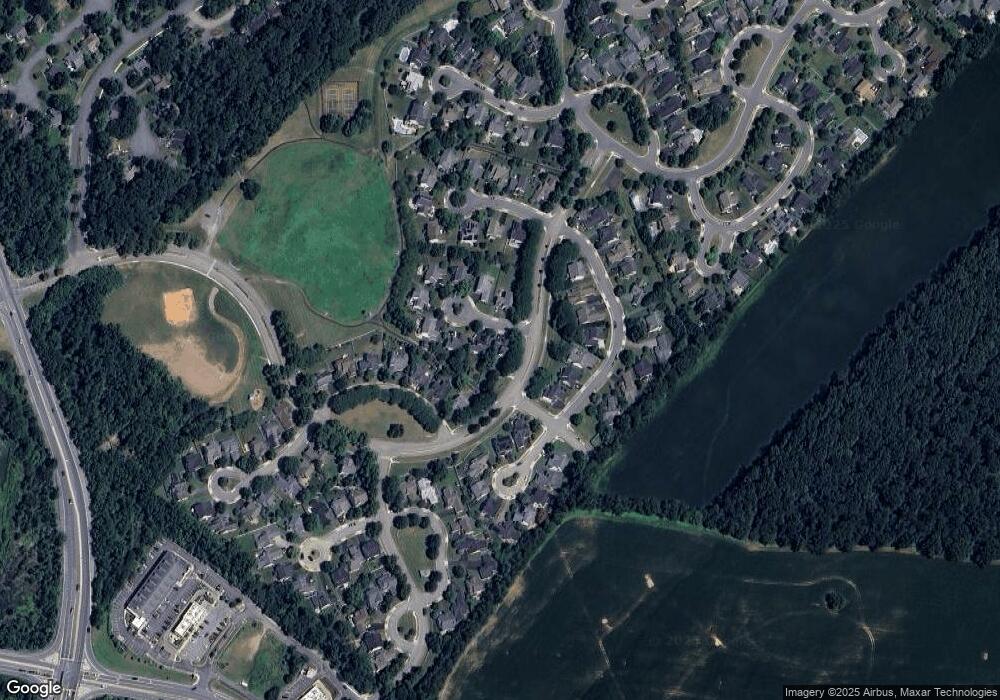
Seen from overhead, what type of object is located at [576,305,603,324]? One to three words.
house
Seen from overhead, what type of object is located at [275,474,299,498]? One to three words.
house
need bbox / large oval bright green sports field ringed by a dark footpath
[219,142,396,322]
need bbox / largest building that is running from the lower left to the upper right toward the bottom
[125,550,190,624]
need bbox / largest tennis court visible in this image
[322,82,357,116]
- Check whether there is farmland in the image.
Yes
